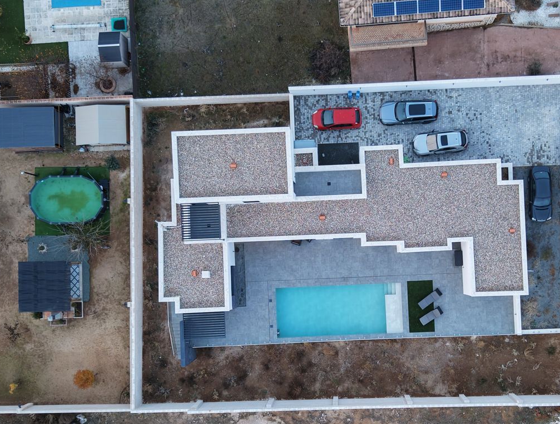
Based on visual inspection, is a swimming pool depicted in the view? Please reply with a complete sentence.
Yes, the frame does contain a swimming pool.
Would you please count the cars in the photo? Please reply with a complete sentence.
In total, 4 cars can be seen.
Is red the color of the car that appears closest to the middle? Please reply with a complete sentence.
Yes, the car that appears closest to the middle appears red.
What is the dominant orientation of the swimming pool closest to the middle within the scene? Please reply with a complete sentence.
From this overhead view, the swimming pool closest to the middle appears to run from side to side.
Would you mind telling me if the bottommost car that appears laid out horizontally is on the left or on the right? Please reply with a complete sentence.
The bottommost car that appears laid out horizontally appears in the right half of the scene.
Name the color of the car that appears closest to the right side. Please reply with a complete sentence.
From above, the car that appears closest to the right side appears blue.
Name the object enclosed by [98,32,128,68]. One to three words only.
shed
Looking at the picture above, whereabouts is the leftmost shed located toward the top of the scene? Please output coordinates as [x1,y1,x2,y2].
[0,104,69,152]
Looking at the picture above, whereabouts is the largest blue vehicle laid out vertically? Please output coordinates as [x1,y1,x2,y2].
[528,166,556,222]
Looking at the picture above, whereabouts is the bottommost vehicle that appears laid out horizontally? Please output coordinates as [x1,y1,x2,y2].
[412,129,469,157]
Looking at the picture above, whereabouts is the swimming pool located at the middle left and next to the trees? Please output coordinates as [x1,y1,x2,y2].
[29,174,107,225]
